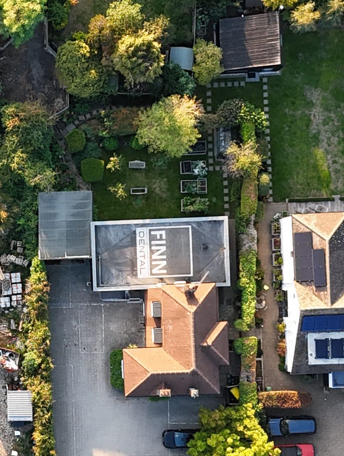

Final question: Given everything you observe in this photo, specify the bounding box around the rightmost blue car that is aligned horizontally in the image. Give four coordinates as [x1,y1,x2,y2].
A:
[264,414,317,439]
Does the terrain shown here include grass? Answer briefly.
Yes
